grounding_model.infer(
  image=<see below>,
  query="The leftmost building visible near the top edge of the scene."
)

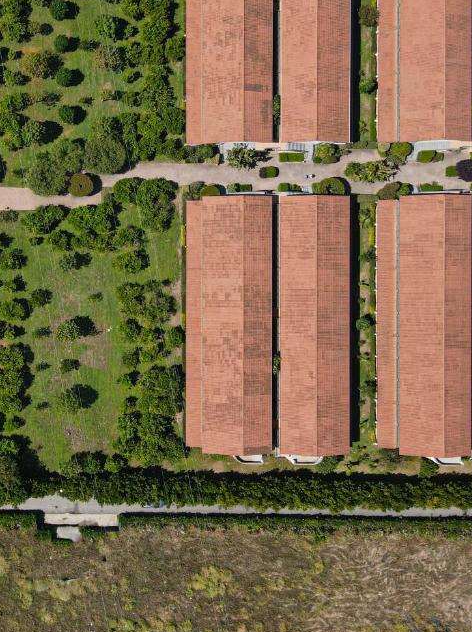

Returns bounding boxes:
[184,0,273,149]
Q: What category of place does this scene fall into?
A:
residential area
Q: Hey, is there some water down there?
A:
No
